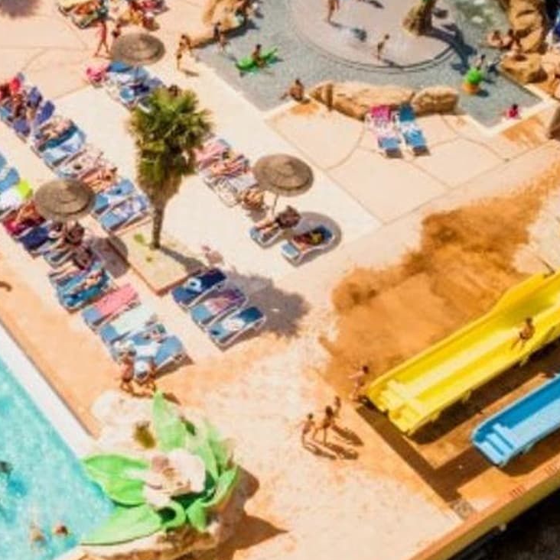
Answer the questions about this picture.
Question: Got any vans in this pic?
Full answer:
No, the picture doesn't show any van.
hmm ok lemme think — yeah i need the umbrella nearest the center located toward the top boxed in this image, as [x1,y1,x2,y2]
[250,159,314,218]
